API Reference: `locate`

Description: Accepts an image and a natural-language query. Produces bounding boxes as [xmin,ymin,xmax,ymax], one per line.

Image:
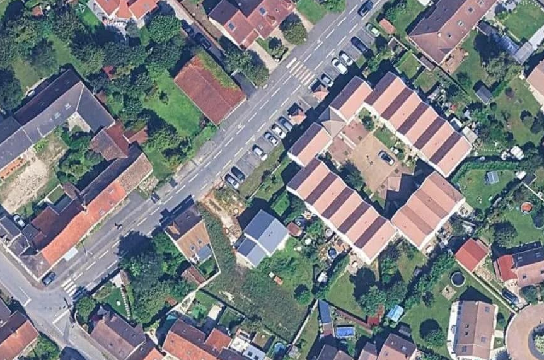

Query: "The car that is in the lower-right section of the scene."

[503,290,516,304]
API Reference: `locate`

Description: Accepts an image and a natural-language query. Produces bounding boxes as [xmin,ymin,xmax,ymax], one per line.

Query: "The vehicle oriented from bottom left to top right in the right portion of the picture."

[358,1,373,15]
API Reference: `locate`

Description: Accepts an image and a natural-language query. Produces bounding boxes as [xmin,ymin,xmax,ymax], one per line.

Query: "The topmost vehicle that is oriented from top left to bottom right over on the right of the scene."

[366,23,380,36]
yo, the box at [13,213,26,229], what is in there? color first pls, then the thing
white vehicle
